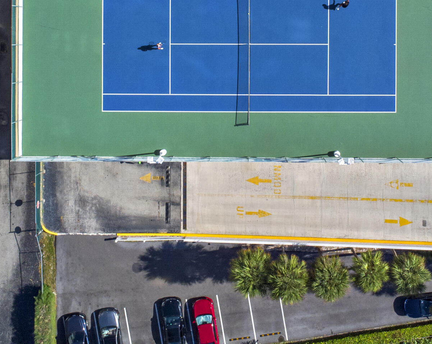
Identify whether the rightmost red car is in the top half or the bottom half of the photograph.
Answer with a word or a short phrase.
bottom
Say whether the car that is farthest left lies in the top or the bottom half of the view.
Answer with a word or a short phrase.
bottom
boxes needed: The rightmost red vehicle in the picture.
[193,296,220,344]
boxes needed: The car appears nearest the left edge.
[67,312,92,344]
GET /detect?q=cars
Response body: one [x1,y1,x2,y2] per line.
[163,298,190,344]
[404,294,432,321]
[101,308,127,344]
[193,296,220,344]
[67,312,92,344]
